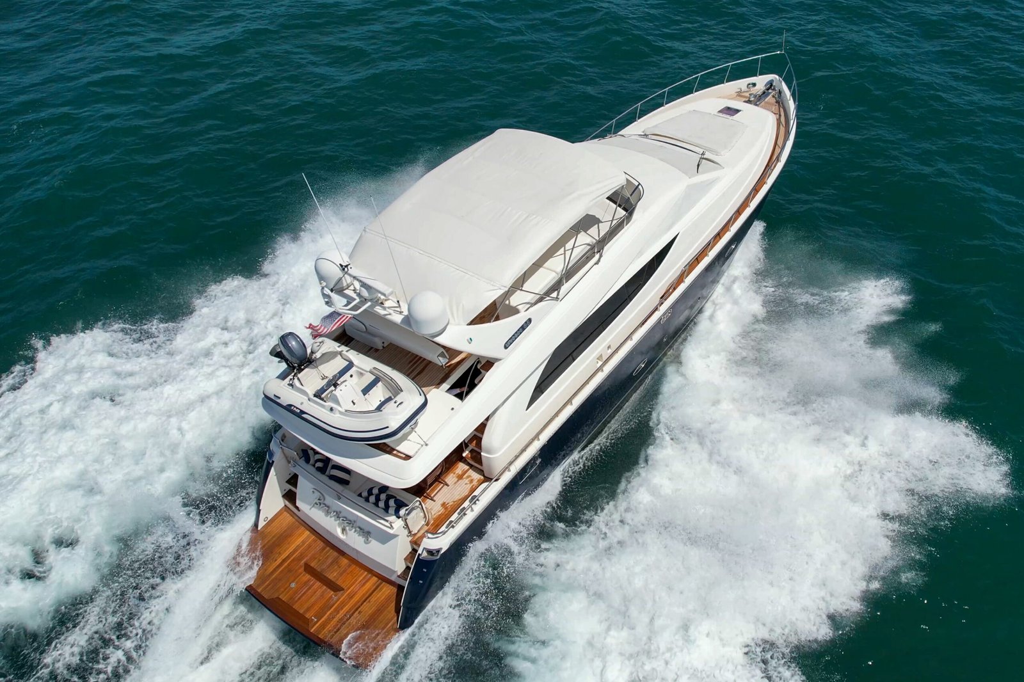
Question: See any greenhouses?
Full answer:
No, I can't see a single greenhouse in this photo.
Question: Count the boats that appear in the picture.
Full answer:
In total, 2 boats can be seen.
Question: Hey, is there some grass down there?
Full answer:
No, there is no grass in the image.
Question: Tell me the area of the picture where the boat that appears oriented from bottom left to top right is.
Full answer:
The boat that appears oriented from bottom left to top right sits in the center section of the image.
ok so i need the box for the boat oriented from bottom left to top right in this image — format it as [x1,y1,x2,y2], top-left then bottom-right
[216,26,801,661]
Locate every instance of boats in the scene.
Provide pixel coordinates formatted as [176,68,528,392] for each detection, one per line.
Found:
[261,325,431,440]
[216,26,801,661]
